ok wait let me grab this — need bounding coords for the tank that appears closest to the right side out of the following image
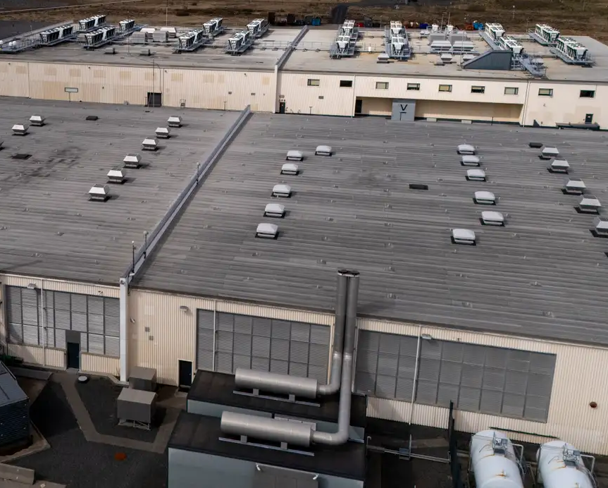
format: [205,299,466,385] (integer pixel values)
[530,448,602,488]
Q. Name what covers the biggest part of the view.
buildings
